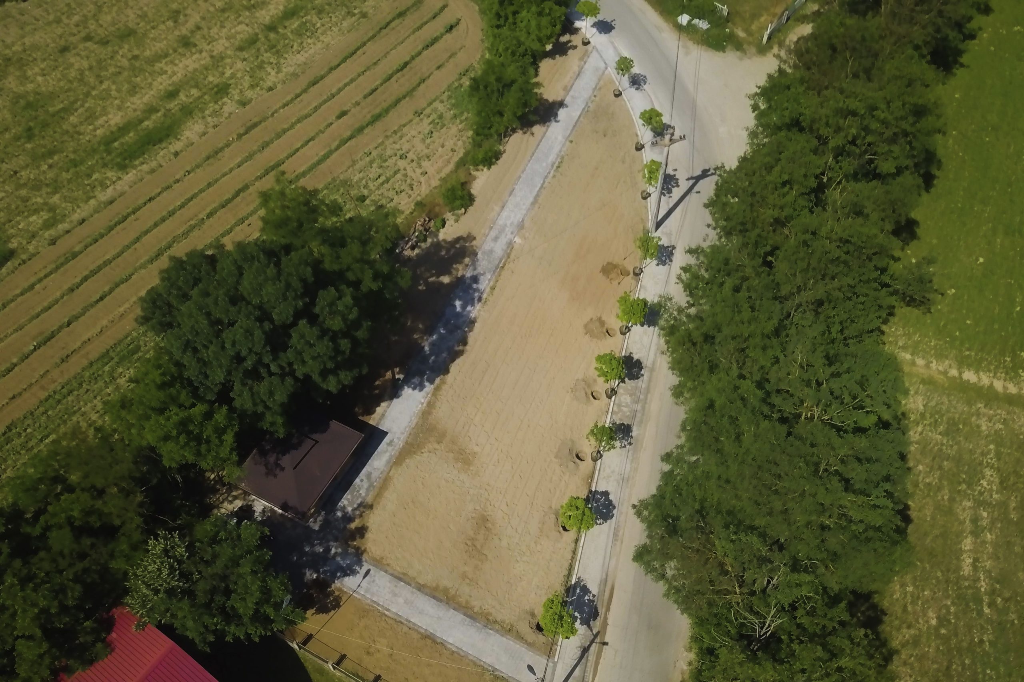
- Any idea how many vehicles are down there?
0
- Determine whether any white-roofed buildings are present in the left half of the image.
No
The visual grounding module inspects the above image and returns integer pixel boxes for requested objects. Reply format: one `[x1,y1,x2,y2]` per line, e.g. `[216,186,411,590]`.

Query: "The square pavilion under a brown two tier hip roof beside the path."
[229,400,366,535]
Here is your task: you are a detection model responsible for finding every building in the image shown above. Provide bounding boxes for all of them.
[229,400,366,535]
[51,610,220,682]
